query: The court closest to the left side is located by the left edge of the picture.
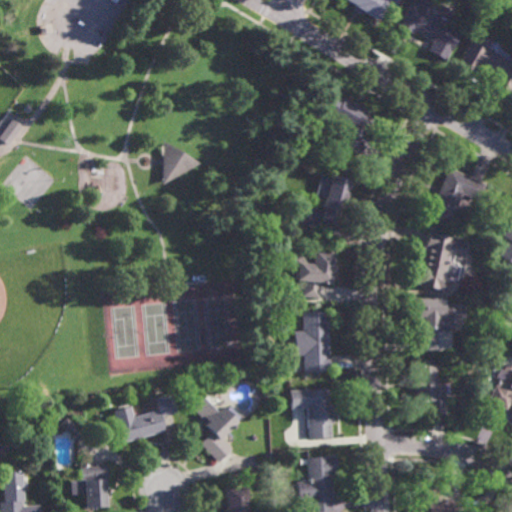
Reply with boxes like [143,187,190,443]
[6,156,54,208]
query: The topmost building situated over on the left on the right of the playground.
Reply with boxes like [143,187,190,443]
[162,144,200,184]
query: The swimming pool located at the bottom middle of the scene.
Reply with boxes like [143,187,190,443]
[238,386,253,410]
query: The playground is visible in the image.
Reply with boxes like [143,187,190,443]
[78,154,126,212]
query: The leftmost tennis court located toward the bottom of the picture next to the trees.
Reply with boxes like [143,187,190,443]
[112,305,140,358]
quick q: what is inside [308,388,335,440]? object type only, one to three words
house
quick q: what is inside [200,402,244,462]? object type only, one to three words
house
